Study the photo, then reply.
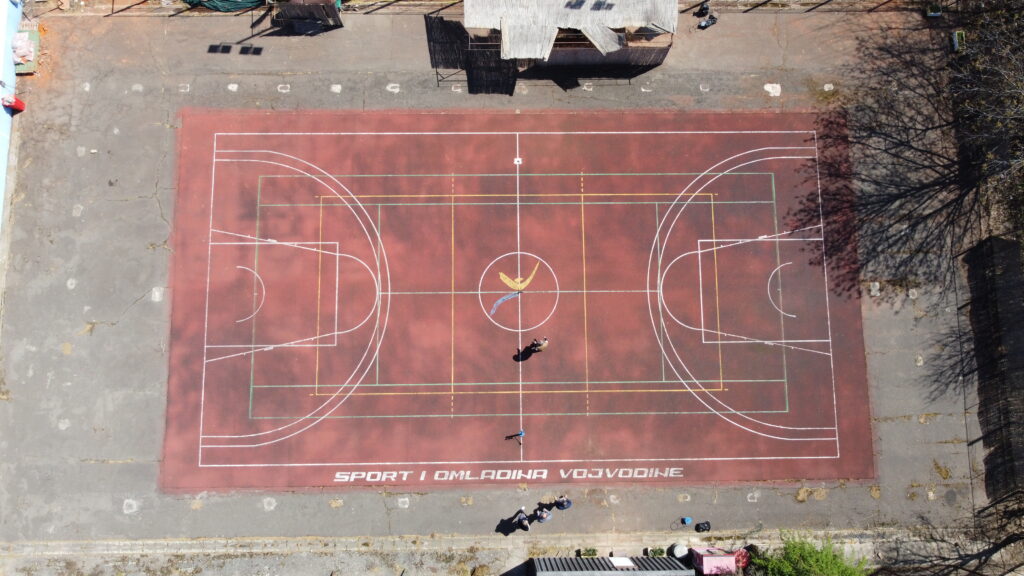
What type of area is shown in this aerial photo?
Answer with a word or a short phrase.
sports ground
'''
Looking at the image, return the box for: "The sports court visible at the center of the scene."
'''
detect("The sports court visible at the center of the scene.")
[160,107,877,490]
